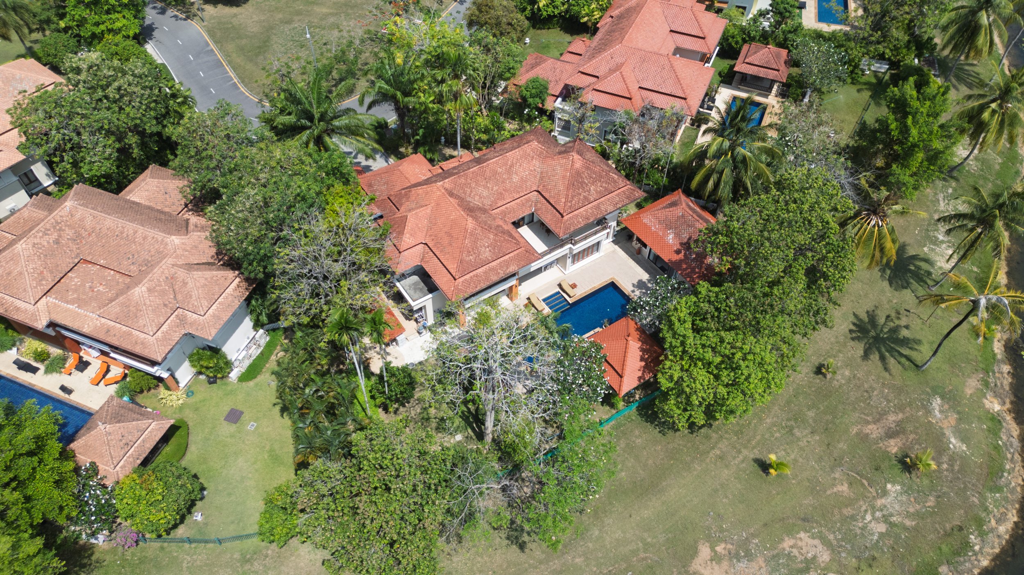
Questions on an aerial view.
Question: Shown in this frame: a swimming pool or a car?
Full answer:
The image shows a swimming pool.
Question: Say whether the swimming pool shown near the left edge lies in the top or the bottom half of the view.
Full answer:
You can find the swimming pool shown near the left edge in the bottom half.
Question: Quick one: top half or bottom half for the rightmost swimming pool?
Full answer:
The rightmost swimming pool sits in the top half of the picture.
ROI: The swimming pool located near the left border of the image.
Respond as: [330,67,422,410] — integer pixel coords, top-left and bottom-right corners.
[0,376,93,480]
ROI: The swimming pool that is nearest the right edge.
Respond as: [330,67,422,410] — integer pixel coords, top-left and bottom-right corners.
[813,0,851,26]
